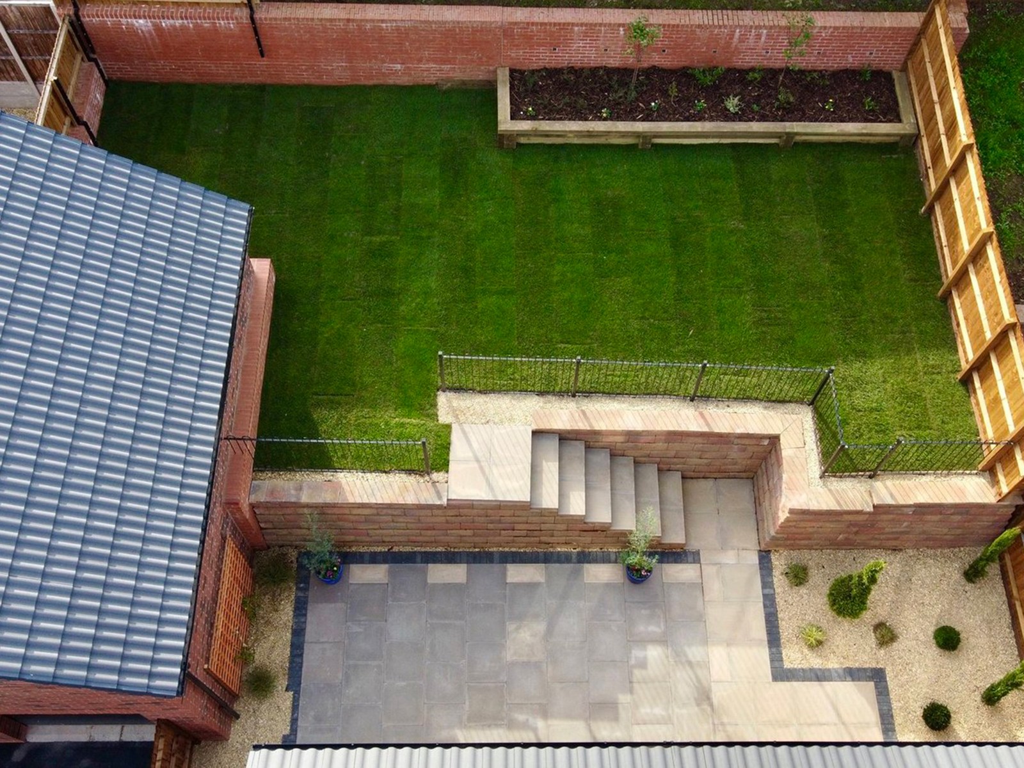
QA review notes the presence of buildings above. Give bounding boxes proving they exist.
[251,735,1024,768]
[0,117,259,741]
